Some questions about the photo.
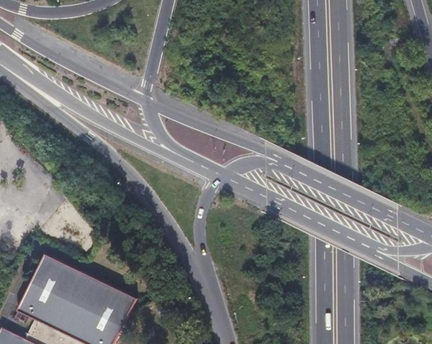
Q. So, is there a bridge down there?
Yes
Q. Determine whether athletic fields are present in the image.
No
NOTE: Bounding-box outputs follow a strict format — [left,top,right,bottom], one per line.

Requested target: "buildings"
[18,254,138,344]
[0,326,36,344]
[26,320,84,344]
